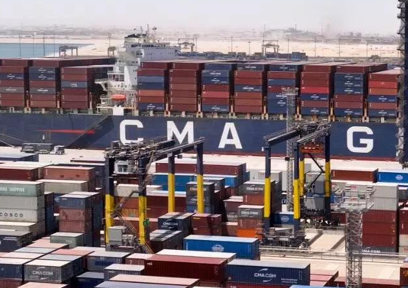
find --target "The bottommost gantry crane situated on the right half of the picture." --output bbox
[261,120,334,245]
